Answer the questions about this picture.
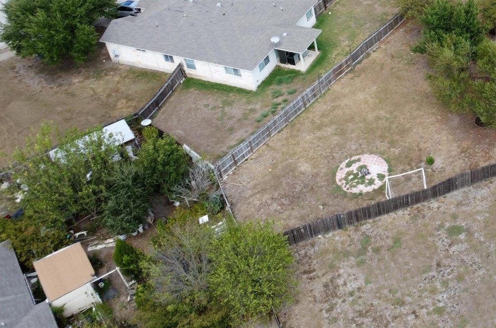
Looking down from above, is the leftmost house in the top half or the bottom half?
bottom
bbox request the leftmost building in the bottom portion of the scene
[0,220,59,328]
